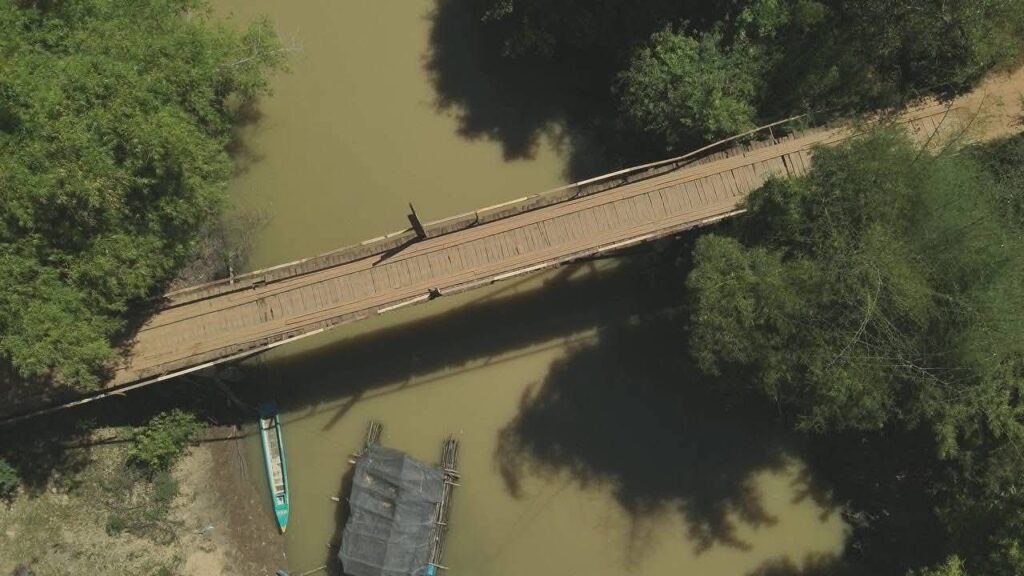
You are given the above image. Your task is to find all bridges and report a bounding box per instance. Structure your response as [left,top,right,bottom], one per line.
[0,95,963,422]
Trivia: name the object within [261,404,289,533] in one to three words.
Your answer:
boat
